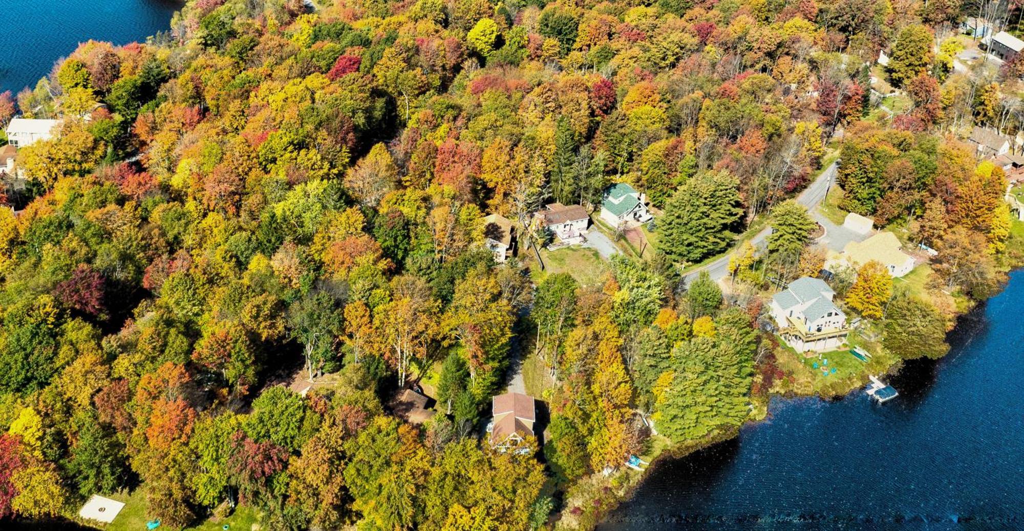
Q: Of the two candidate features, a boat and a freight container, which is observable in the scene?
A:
boat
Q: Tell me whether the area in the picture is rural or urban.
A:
rural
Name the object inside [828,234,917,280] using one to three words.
house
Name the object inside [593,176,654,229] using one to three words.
building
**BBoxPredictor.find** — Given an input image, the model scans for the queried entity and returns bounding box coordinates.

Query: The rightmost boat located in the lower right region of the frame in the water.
[872,382,902,407]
